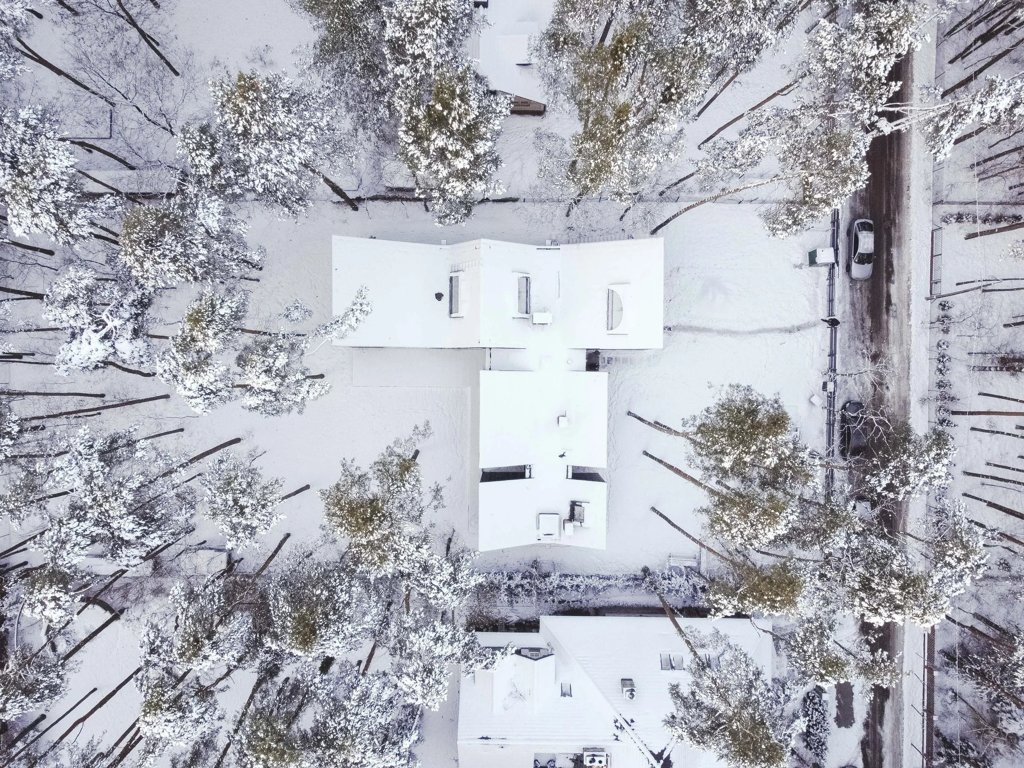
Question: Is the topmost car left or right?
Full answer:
The topmost car appears in the right half of the scene.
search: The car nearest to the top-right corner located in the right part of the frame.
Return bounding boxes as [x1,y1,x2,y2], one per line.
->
[845,220,878,283]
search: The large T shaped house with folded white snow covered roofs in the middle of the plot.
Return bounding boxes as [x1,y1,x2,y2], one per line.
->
[330,236,663,550]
